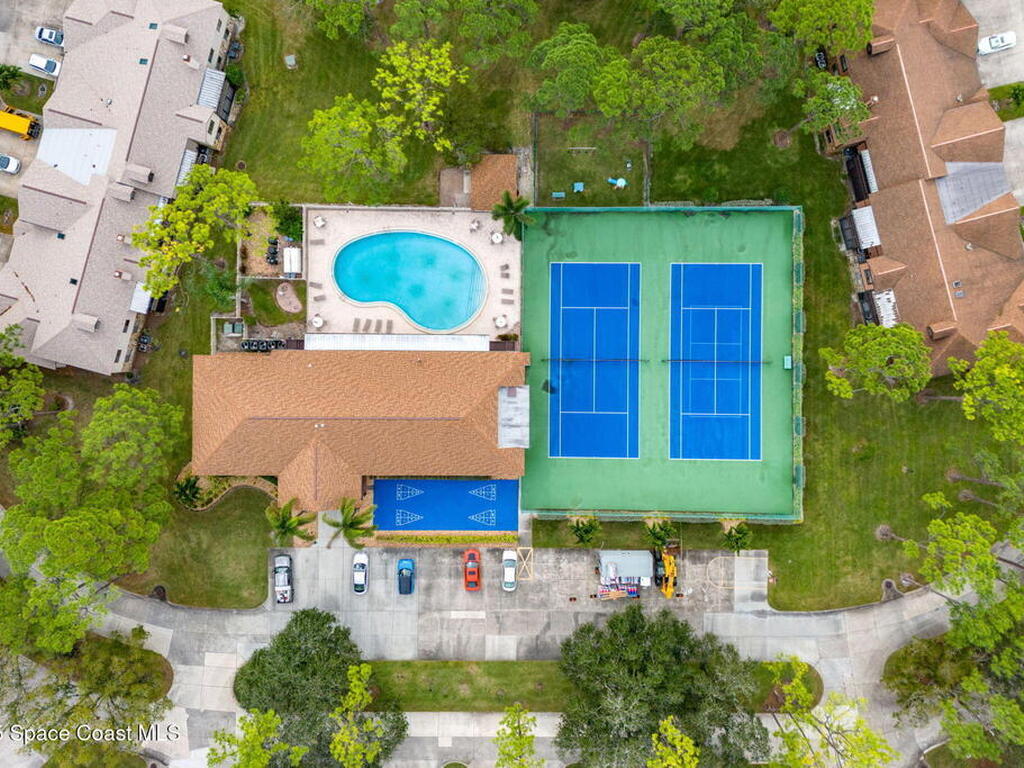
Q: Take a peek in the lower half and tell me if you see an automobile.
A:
Yes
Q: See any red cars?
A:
Yes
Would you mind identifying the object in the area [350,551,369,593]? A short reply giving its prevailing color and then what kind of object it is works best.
white car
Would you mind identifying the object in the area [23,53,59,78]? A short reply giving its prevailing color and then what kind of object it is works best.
white car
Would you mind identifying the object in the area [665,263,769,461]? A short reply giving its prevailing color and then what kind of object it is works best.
blue tennis court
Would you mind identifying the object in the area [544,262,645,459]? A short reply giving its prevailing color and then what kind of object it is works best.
blue tennis court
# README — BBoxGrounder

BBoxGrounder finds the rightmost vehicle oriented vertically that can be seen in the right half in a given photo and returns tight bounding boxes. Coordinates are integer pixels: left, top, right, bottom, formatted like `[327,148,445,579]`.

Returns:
[654,541,677,598]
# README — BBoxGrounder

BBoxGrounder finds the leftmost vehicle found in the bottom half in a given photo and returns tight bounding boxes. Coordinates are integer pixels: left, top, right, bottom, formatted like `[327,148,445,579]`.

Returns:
[273,555,294,602]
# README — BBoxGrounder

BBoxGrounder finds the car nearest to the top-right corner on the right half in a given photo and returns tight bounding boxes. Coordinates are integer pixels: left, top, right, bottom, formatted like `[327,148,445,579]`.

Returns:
[977,32,1016,57]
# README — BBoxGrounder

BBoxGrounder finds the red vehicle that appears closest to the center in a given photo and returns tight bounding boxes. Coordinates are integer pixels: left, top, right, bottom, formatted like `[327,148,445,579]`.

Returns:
[462,548,481,590]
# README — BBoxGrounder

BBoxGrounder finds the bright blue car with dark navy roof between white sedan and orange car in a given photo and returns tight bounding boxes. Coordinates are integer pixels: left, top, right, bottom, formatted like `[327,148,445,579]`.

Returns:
[396,557,415,594]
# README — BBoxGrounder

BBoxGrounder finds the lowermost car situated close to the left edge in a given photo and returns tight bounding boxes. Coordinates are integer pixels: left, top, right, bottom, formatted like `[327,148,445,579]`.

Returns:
[0,154,26,174]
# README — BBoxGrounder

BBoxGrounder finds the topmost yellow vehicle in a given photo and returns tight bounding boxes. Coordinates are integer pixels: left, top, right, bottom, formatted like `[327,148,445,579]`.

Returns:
[0,107,41,144]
